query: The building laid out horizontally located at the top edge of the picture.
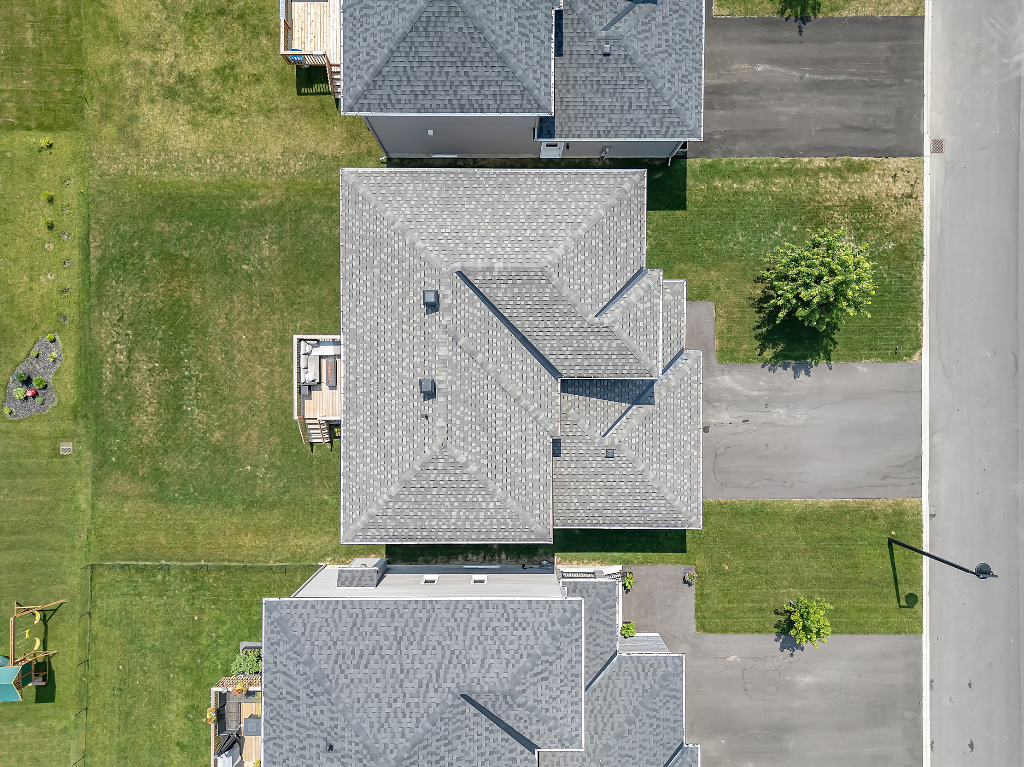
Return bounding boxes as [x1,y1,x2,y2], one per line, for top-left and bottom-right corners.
[343,0,703,173]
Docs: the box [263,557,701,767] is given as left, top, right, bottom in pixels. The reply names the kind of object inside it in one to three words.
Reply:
house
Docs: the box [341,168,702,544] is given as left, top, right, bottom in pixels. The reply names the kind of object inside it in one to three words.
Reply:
house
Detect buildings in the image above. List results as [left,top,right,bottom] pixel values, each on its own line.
[341,168,702,544]
[263,557,701,767]
[343,0,703,173]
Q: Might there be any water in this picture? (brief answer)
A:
No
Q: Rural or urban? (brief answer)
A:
urban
